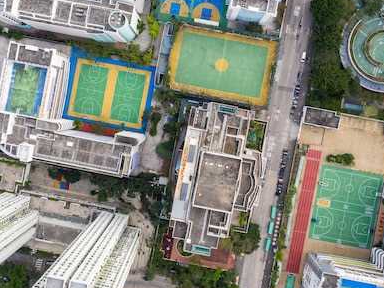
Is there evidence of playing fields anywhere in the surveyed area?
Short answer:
Yes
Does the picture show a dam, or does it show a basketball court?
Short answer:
basketball court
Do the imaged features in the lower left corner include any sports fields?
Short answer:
No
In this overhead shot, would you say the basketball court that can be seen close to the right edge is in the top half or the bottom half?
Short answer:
bottom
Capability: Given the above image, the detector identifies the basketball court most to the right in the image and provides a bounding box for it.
[306,166,384,251]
